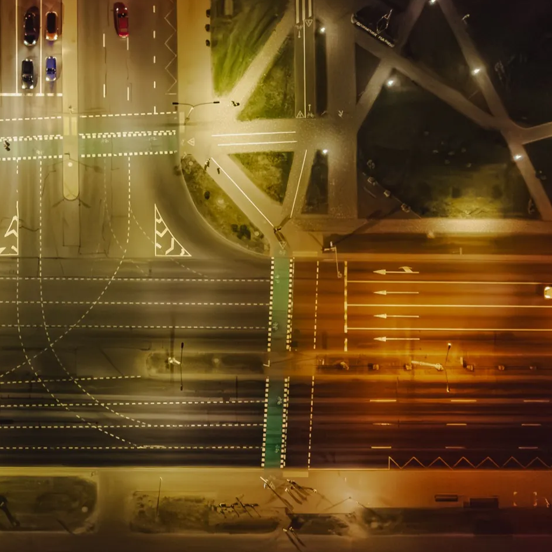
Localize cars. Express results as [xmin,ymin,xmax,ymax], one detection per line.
[44,9,58,40]
[23,7,38,42]
[542,286,552,299]
[44,55,58,81]
[114,2,129,36]
[21,58,35,89]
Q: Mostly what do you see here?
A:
paved ground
